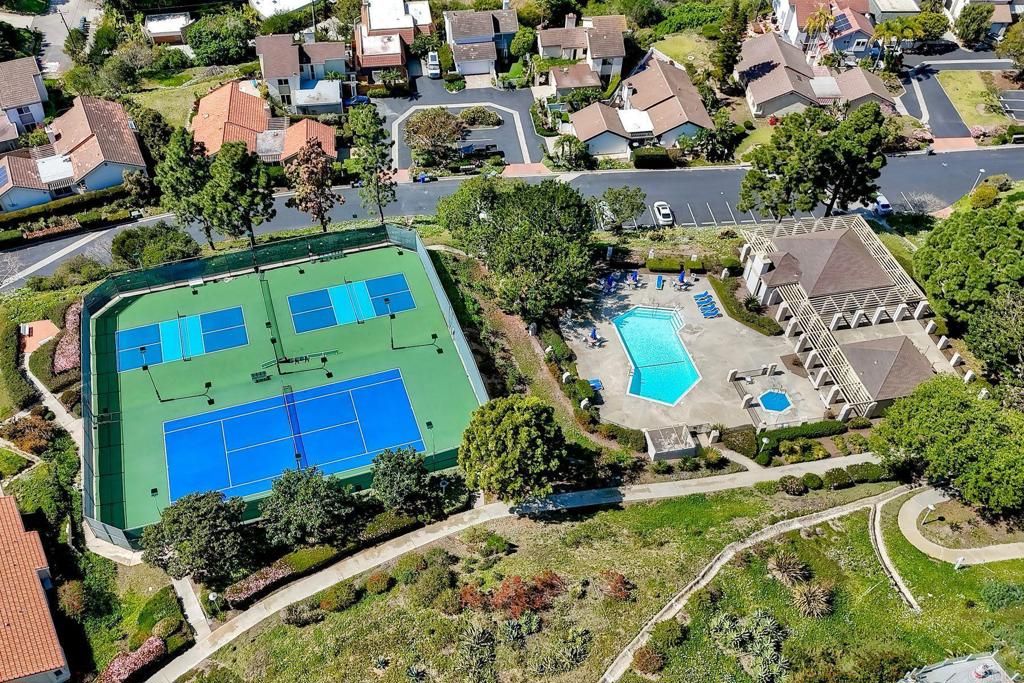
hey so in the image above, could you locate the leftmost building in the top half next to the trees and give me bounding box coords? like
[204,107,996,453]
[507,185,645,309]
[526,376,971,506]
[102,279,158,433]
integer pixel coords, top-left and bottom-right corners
[0,56,57,157]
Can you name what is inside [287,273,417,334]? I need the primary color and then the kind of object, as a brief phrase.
blue sports court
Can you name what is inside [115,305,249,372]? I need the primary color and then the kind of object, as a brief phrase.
blue sports court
